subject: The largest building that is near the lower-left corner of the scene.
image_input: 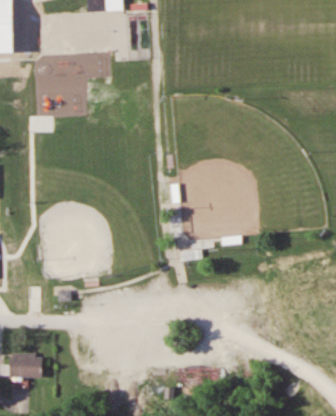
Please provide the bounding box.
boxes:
[10,353,42,378]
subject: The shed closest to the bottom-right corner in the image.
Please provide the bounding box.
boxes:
[176,366,221,382]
